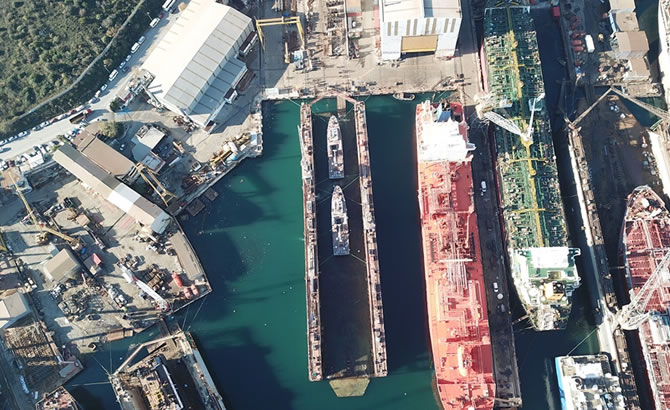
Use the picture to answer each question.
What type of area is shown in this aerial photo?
port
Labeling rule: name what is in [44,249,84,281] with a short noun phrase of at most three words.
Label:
shed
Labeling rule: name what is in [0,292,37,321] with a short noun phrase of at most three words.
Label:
shed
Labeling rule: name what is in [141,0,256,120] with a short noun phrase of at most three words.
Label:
building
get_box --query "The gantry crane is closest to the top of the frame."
[254,13,304,52]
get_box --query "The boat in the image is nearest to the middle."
[330,184,349,256]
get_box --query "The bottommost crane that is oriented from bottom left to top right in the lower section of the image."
[607,248,670,330]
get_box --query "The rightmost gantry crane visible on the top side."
[480,95,525,147]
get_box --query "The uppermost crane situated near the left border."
[6,169,47,243]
